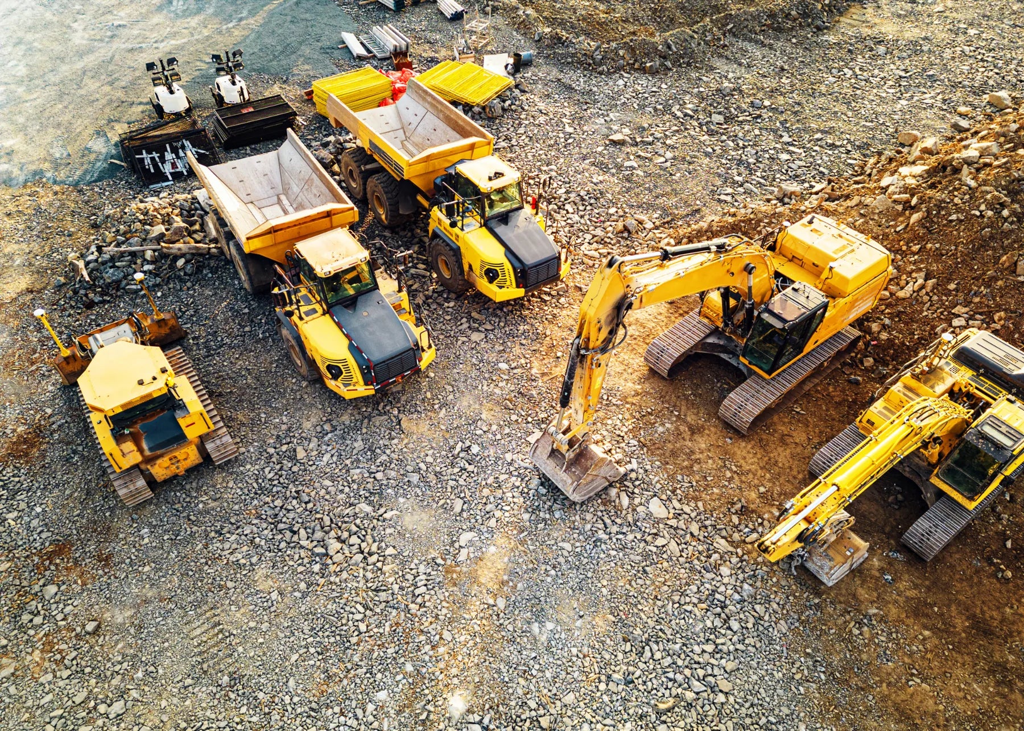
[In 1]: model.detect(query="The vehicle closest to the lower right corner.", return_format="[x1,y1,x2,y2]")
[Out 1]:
[753,323,1024,591]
